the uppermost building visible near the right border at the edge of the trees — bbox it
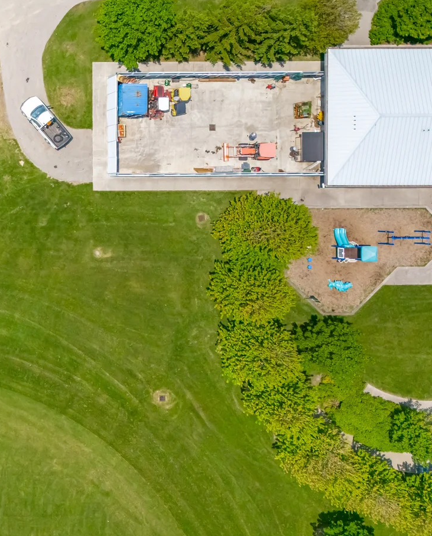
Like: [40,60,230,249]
[319,48,432,188]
